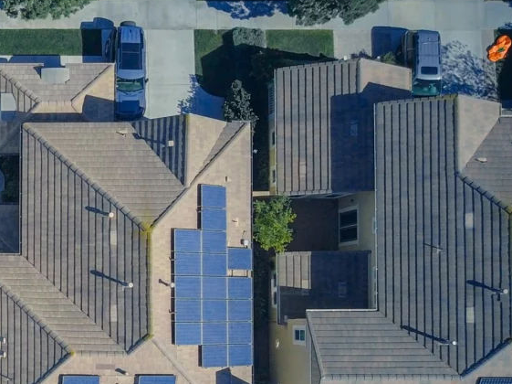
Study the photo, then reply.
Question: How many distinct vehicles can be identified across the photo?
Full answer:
There are 2 vehicles in the image.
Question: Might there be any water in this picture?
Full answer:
No, no water is visible.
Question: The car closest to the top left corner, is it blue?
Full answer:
Yes, the car closest to the top left corner is indeed blue.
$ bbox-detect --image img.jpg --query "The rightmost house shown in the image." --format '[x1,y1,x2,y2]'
[266,58,512,384]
